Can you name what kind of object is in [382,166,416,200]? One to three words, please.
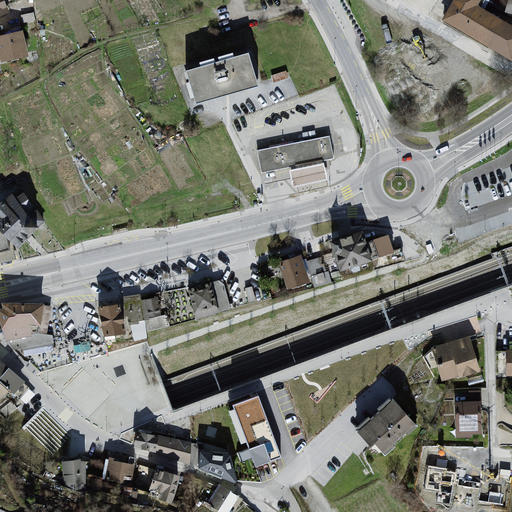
roundabout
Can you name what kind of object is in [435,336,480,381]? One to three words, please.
house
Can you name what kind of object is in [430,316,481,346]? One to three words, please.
building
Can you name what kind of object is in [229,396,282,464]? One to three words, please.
building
